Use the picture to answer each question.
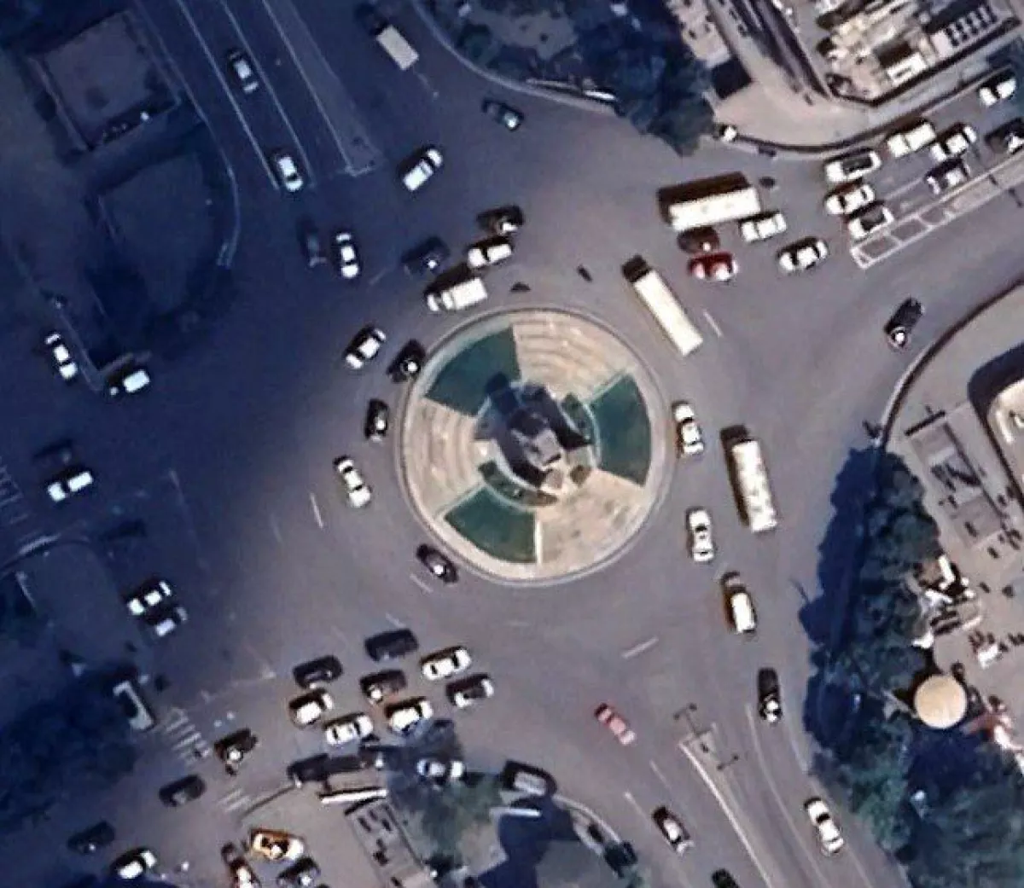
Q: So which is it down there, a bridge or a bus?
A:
bus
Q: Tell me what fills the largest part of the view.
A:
paved ground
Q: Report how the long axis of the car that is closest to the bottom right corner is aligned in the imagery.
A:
diagonally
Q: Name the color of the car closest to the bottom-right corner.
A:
white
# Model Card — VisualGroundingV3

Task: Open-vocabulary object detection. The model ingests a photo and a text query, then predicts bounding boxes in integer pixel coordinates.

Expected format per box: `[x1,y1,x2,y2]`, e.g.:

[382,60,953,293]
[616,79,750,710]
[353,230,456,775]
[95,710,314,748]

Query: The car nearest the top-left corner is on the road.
[227,50,258,91]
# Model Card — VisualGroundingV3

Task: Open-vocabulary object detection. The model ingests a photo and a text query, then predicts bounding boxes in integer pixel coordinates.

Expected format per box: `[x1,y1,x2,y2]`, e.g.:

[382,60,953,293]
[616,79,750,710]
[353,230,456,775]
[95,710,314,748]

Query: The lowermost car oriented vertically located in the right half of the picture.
[756,669,783,721]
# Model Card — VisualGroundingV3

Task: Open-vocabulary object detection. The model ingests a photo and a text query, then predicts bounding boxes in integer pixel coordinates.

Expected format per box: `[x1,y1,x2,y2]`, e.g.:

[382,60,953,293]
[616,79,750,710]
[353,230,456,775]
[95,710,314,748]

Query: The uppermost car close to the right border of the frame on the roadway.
[977,71,1020,102]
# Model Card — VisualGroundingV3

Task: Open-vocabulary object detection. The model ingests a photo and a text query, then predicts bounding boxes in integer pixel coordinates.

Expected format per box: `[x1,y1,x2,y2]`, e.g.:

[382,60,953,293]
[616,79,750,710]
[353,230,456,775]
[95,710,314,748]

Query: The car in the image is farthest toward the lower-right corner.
[803,800,844,851]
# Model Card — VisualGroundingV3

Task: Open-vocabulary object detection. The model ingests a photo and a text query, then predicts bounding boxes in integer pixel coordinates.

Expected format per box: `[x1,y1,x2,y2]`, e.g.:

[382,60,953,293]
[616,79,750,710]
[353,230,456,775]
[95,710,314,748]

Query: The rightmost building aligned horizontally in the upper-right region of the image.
[769,0,1024,110]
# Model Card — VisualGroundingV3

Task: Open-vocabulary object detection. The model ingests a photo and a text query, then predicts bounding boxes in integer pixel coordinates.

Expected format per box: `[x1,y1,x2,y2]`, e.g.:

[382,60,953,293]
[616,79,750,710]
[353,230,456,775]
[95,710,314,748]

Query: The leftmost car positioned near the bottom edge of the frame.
[67,821,116,854]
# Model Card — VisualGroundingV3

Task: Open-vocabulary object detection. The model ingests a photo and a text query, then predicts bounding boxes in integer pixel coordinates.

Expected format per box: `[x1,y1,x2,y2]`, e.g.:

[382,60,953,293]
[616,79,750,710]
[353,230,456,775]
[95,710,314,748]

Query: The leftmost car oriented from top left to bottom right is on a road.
[43,333,78,379]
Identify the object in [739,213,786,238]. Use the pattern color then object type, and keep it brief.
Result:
white car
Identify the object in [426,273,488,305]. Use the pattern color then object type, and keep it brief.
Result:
white truck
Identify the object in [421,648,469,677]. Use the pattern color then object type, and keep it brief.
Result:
white car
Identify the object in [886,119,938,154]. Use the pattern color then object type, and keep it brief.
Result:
white van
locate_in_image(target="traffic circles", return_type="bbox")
[399,305,670,587]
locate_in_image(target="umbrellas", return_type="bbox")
[914,674,965,726]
